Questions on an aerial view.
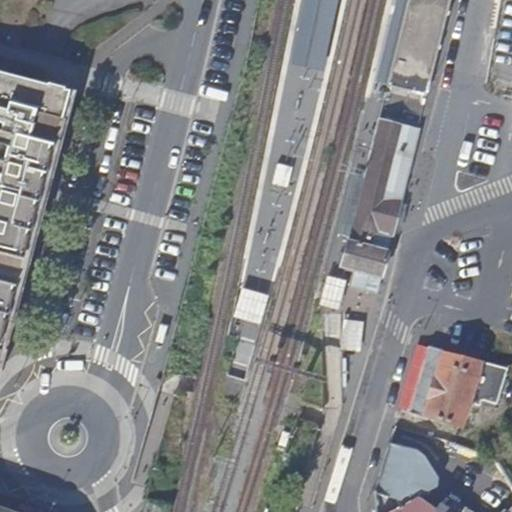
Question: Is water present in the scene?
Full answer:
No, water can't be seen anywhere here.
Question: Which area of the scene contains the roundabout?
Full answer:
Look in the bottom left portion of the view to spot the roundabout.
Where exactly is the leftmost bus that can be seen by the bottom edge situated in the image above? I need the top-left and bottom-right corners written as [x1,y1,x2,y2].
[326,447,354,504]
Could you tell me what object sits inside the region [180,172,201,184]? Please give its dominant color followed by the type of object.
white vehicle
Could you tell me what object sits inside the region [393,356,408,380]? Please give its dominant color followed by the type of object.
gray car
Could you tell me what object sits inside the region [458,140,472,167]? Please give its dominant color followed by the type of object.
white vehicle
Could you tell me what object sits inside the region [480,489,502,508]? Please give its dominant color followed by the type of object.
white car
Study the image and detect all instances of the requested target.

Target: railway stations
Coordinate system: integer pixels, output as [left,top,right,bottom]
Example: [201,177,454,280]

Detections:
[352,119,420,237]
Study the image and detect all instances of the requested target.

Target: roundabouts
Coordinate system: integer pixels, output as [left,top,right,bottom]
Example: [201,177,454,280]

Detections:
[0,355,150,512]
